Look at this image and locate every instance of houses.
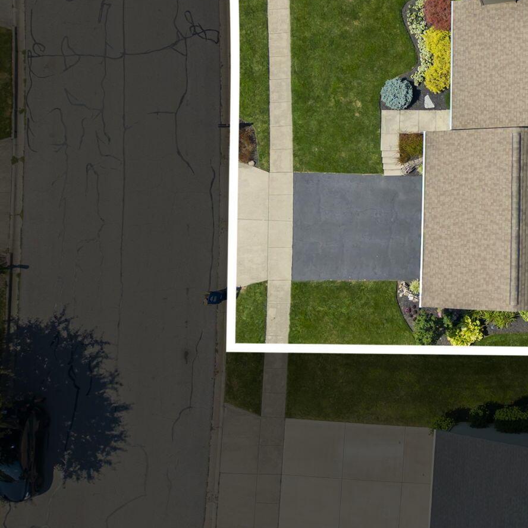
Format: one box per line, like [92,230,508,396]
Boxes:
[417,0,528,313]
[427,419,528,528]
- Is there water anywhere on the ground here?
No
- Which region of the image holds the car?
bottom left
